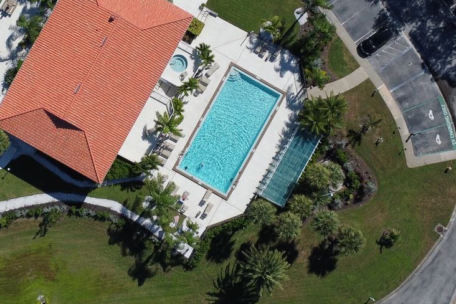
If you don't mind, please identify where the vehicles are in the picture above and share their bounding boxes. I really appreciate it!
[359,26,398,57]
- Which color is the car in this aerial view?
black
